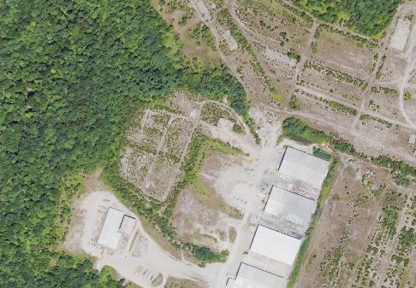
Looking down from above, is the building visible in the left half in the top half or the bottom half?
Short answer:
bottom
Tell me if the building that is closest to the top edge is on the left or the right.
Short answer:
right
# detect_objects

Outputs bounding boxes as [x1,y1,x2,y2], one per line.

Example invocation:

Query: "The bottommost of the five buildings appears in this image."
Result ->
[226,262,285,288]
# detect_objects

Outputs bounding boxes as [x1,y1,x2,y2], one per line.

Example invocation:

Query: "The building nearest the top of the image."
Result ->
[278,146,328,184]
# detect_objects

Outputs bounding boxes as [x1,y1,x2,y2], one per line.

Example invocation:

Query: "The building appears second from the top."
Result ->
[263,184,314,225]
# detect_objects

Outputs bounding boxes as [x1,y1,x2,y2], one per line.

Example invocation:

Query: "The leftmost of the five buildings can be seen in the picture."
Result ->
[97,208,137,248]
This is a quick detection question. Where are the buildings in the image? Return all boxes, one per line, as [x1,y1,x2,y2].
[263,184,314,225]
[249,225,300,266]
[226,262,285,288]
[97,208,137,248]
[278,146,328,184]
